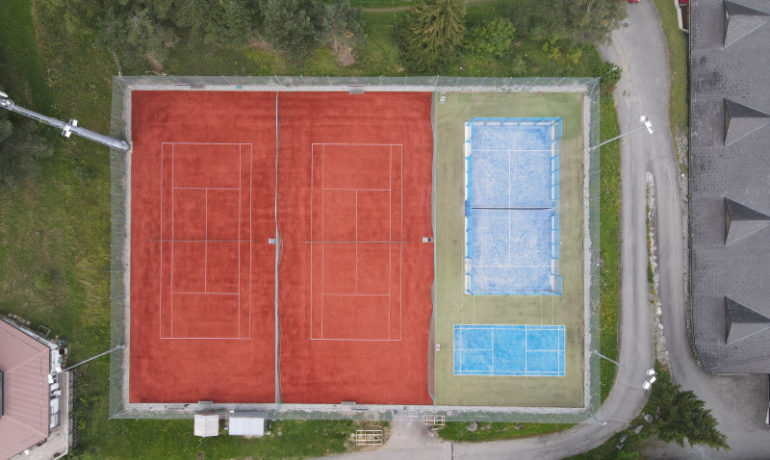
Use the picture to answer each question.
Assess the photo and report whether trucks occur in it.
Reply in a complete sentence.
No, the picture doesn't show any truck.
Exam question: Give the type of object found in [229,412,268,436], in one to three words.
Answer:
shed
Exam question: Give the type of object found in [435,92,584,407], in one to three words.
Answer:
sports court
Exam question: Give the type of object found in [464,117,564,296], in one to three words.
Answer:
sports court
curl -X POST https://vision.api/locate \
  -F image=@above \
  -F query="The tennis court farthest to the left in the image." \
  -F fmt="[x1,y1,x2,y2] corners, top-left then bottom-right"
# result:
[129,91,278,404]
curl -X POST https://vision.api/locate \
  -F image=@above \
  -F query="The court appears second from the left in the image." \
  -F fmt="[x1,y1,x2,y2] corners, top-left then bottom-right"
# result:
[277,91,433,404]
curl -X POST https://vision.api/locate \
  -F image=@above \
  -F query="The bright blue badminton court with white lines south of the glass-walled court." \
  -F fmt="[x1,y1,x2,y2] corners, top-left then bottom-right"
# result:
[454,325,565,377]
